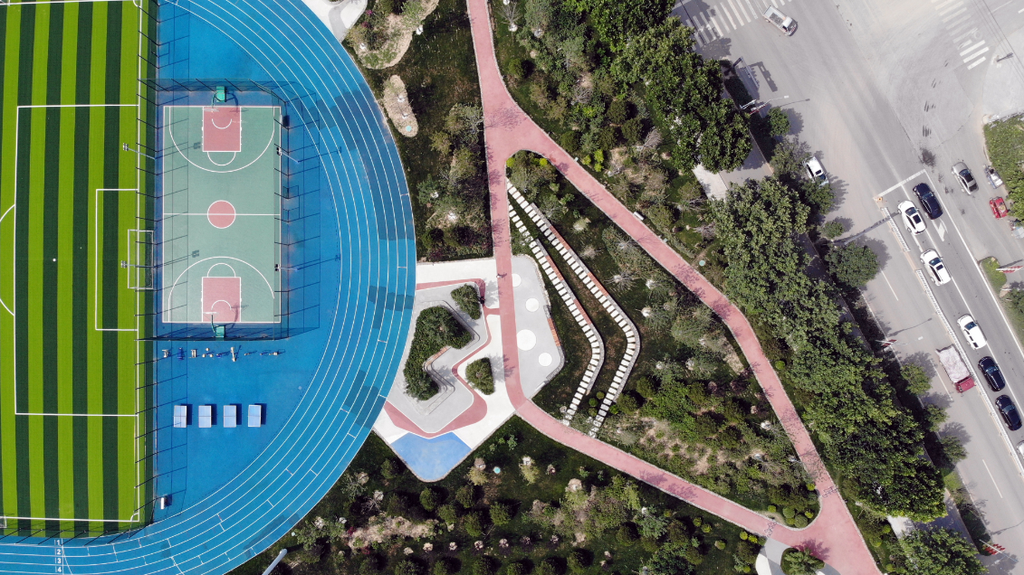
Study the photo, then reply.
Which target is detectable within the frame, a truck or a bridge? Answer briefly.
truck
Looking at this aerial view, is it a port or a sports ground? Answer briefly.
sports ground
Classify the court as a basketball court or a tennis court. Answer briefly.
basketball court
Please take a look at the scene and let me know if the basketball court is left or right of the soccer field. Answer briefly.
right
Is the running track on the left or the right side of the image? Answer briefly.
left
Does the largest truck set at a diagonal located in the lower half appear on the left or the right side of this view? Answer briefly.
right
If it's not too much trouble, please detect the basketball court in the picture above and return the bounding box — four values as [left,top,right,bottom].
[158,89,289,338]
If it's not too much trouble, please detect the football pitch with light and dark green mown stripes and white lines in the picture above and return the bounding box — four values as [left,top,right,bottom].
[0,0,158,539]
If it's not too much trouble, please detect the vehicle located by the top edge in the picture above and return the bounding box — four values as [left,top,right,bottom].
[762,5,795,35]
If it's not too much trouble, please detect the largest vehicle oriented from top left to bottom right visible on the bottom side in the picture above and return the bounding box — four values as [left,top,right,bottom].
[938,345,980,395]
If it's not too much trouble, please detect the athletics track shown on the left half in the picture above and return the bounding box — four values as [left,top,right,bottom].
[0,0,416,575]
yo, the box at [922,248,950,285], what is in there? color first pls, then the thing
white car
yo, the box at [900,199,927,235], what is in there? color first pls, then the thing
white car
